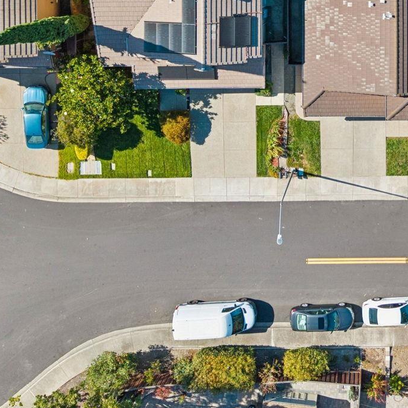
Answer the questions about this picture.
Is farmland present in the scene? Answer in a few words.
No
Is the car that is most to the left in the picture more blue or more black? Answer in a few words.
blue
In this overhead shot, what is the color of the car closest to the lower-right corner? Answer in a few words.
white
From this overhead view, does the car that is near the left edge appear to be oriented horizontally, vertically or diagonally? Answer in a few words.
vertically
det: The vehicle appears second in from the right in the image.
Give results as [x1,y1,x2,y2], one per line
[290,299,354,333]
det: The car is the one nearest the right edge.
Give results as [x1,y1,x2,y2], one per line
[363,294,408,324]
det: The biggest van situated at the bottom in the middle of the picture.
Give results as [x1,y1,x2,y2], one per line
[171,296,258,339]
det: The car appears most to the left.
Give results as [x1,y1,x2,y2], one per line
[20,85,53,148]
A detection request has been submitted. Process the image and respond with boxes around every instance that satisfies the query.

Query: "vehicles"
[20,85,53,148]
[363,294,408,324]
[171,296,258,339]
[290,299,354,333]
